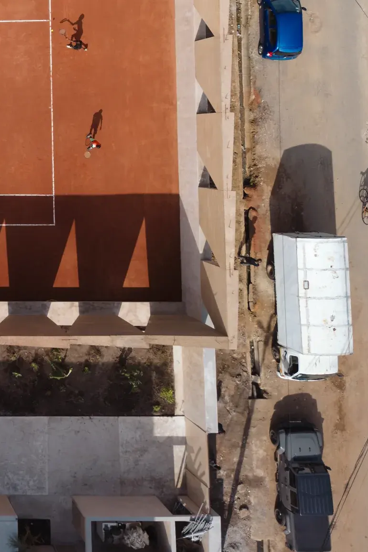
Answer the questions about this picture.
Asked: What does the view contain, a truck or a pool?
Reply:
truck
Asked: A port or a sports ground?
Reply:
sports ground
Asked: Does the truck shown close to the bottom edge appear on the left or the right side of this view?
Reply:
right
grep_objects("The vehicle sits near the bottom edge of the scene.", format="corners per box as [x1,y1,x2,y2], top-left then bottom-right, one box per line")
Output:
[283,422,349,552]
